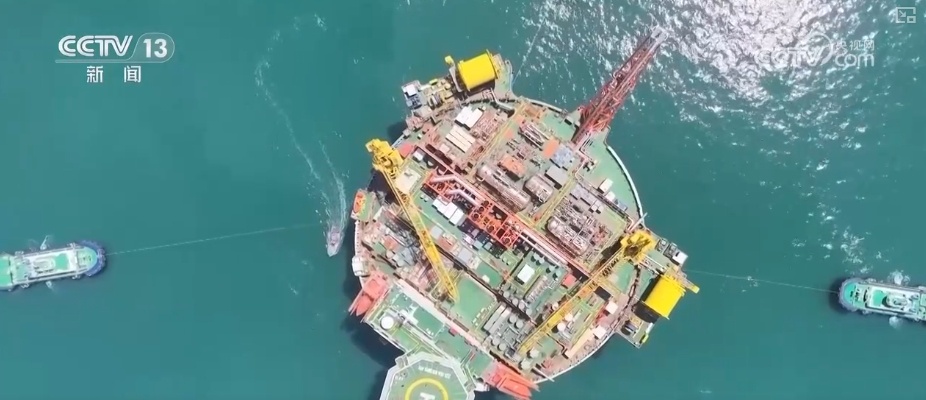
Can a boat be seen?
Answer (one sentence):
Yes, the frame does contain a boat.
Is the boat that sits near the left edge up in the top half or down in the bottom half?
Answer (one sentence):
The bottom half of the photo is where the boat that sits near the left edge is.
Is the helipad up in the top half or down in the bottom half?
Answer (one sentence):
The bottom half of the photo is where the helipad is.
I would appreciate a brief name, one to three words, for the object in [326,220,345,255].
boat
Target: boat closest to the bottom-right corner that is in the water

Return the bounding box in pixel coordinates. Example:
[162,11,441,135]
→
[832,278,926,325]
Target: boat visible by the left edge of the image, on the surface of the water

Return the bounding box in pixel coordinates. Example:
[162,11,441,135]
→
[0,242,111,287]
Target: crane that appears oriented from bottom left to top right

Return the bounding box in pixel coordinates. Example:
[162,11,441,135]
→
[516,225,658,357]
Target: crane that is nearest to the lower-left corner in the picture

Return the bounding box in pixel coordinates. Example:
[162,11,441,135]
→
[371,140,458,302]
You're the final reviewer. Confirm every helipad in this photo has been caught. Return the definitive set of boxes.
[379,349,477,400]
